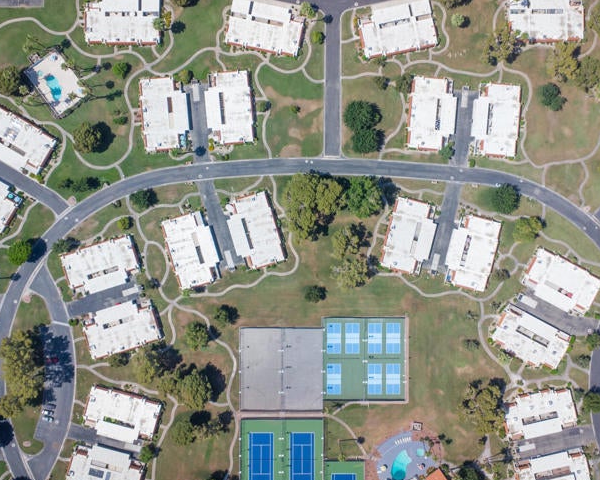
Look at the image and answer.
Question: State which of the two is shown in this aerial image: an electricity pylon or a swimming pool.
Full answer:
The image shows a swimming pool.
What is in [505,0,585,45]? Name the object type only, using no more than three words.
building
